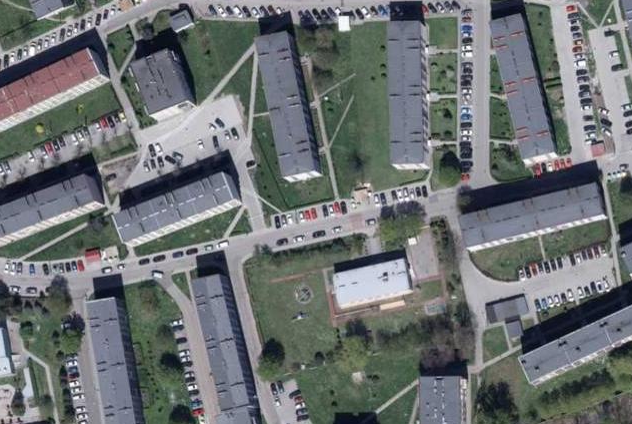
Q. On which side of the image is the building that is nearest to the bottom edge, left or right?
right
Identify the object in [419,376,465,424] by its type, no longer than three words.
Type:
building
